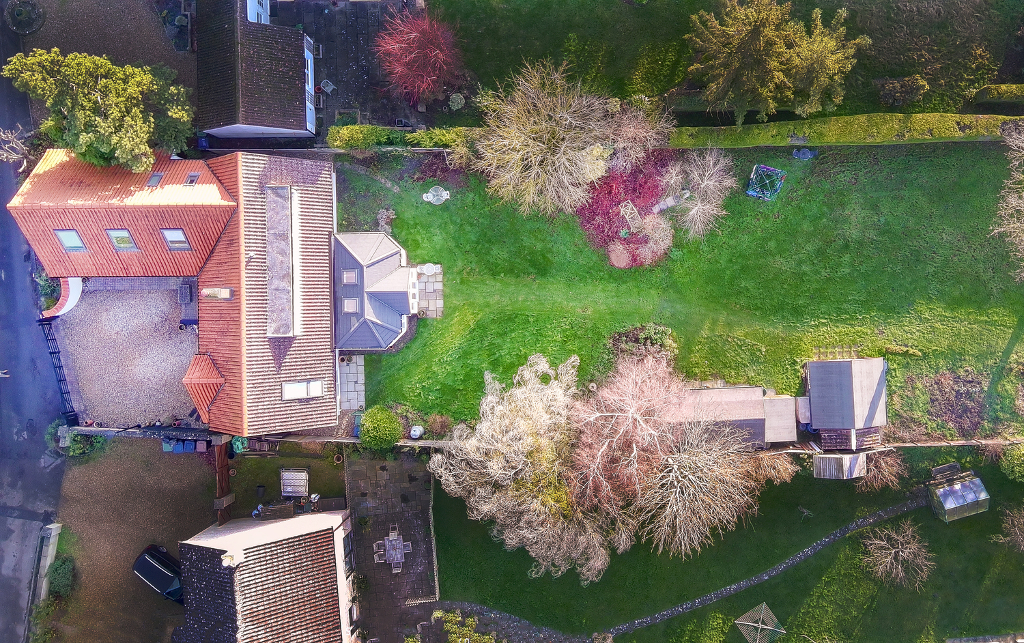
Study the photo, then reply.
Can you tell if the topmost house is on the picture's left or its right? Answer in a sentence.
It is on the left.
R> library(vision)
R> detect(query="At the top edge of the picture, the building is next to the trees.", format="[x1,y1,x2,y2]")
[195,0,321,144]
